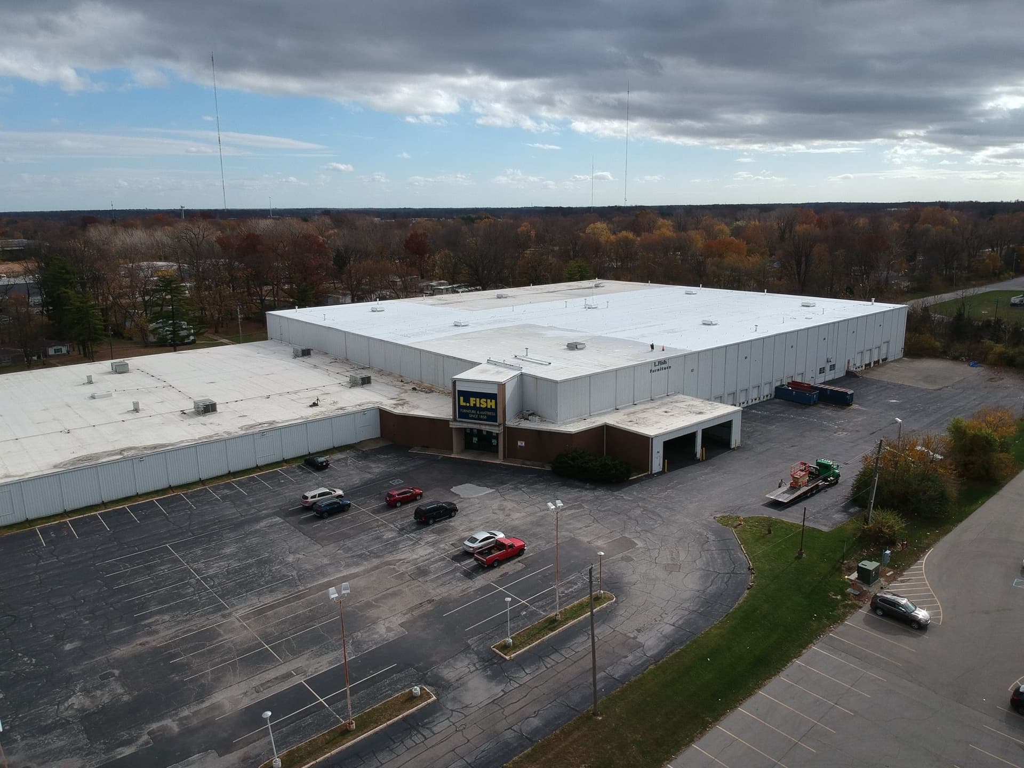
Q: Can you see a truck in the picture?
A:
Yes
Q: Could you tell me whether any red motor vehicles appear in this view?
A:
Yes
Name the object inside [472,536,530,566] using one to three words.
truck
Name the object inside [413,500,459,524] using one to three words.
car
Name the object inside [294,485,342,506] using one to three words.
car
